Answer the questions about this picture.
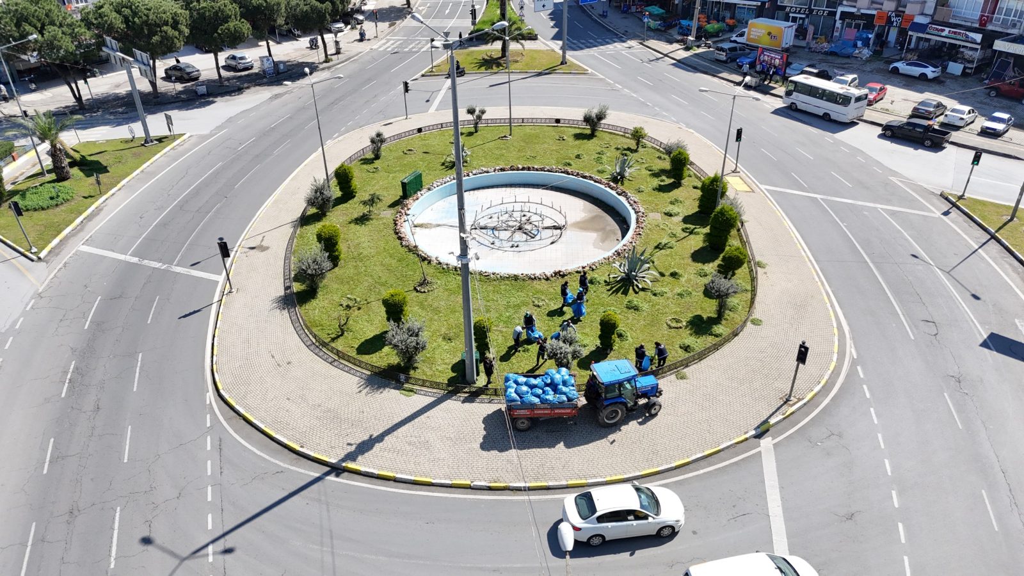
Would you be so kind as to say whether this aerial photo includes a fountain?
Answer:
Yes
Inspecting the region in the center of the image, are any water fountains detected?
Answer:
Yes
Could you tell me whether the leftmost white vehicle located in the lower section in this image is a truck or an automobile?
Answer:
automobile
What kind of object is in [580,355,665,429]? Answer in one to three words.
work vehicle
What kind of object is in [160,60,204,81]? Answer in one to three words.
car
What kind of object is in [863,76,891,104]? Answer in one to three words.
car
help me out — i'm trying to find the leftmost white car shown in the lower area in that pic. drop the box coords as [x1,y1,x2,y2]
[560,478,690,545]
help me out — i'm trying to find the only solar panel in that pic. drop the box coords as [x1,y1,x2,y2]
[989,53,1024,87]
